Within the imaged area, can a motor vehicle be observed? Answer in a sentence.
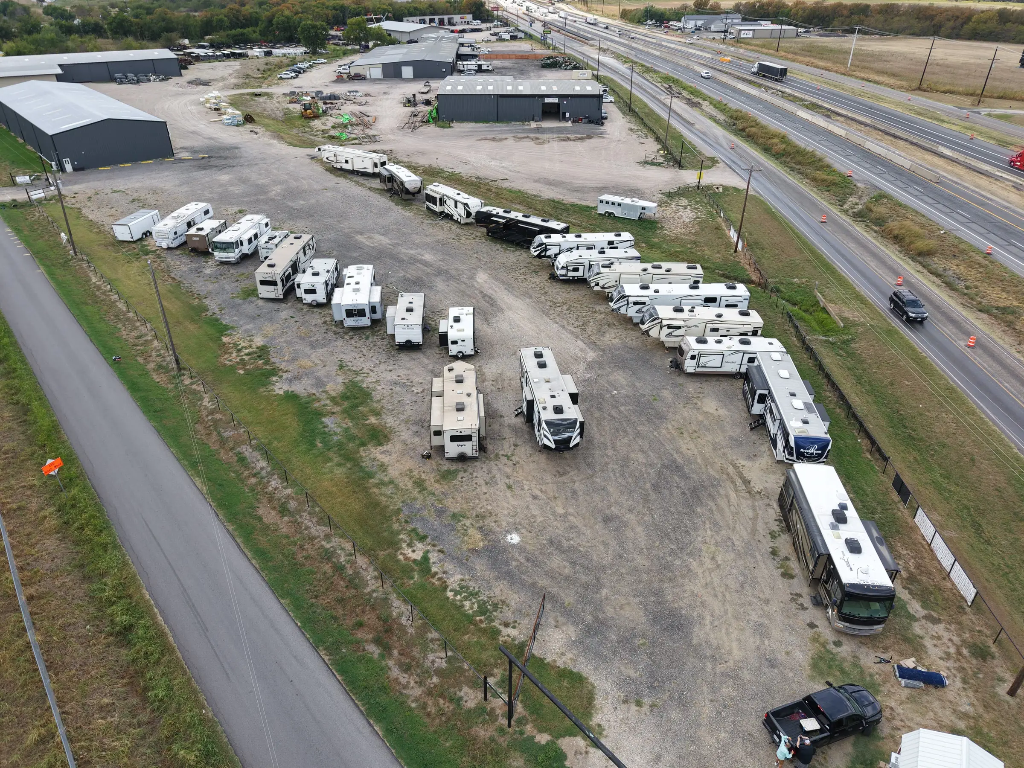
Yes, you can see a motor vehicle in this photo.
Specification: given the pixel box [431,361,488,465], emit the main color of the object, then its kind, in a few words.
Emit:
white vehicle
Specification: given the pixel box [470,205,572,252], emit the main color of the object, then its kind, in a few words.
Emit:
black camper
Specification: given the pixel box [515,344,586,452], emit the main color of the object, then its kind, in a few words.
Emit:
white camper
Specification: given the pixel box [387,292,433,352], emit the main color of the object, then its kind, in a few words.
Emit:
white vehicle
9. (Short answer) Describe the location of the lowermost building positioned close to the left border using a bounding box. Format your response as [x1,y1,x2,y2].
[0,80,174,172]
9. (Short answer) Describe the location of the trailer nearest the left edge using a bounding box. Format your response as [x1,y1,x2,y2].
[111,210,160,242]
